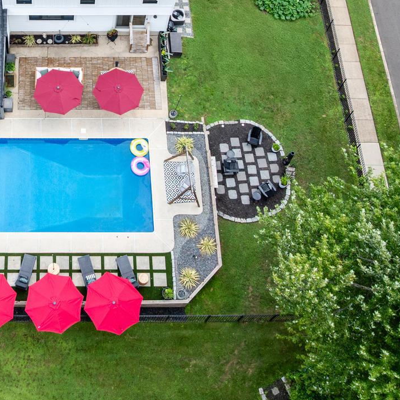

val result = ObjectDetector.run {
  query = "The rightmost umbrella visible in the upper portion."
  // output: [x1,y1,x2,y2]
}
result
[91,71,144,118]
